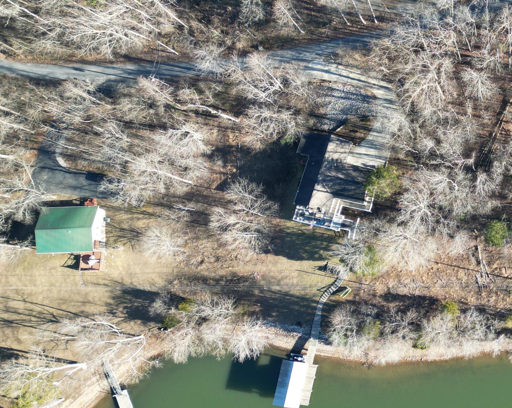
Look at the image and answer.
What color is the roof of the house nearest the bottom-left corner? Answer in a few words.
green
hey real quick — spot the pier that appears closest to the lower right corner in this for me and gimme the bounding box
[301,365,321,406]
